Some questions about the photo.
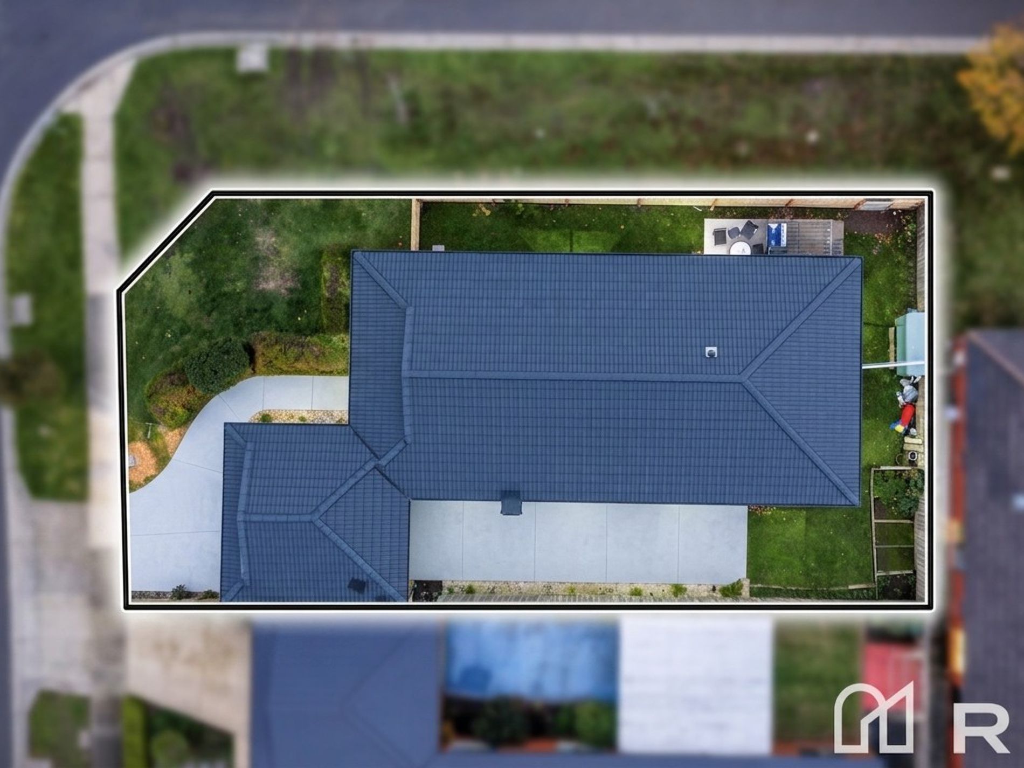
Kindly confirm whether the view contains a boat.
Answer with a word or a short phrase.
No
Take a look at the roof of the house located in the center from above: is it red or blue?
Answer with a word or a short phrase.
blue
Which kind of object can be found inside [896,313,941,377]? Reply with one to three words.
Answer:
shed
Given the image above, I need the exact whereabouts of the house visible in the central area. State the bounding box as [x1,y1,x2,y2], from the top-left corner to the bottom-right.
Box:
[219,249,864,607]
